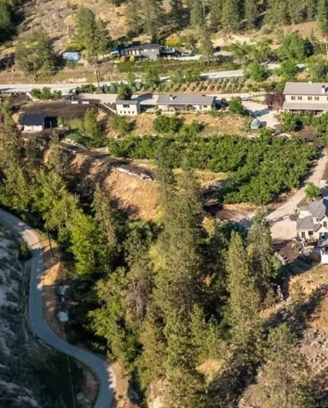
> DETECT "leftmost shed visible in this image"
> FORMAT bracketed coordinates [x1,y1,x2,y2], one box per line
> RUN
[21,116,59,131]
